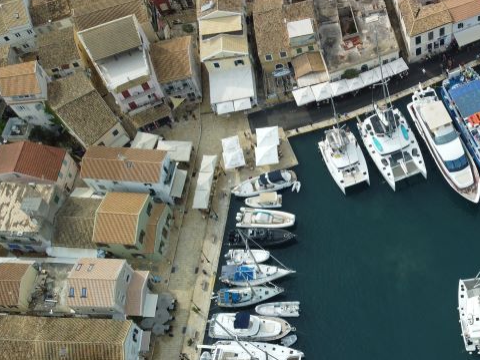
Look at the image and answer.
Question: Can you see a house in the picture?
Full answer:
Yes, this view includes a house.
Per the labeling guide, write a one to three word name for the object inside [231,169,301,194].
boat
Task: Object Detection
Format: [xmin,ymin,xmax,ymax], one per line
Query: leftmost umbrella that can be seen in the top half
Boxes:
[131,133,160,149]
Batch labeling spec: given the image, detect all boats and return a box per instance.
[359,34,426,194]
[320,96,371,203]
[246,192,284,210]
[281,336,297,348]
[457,273,480,354]
[189,313,301,344]
[212,267,285,306]
[214,232,306,287]
[235,211,296,228]
[398,81,480,215]
[231,169,301,194]
[185,317,304,360]
[225,227,295,245]
[293,178,302,192]
[257,302,304,316]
